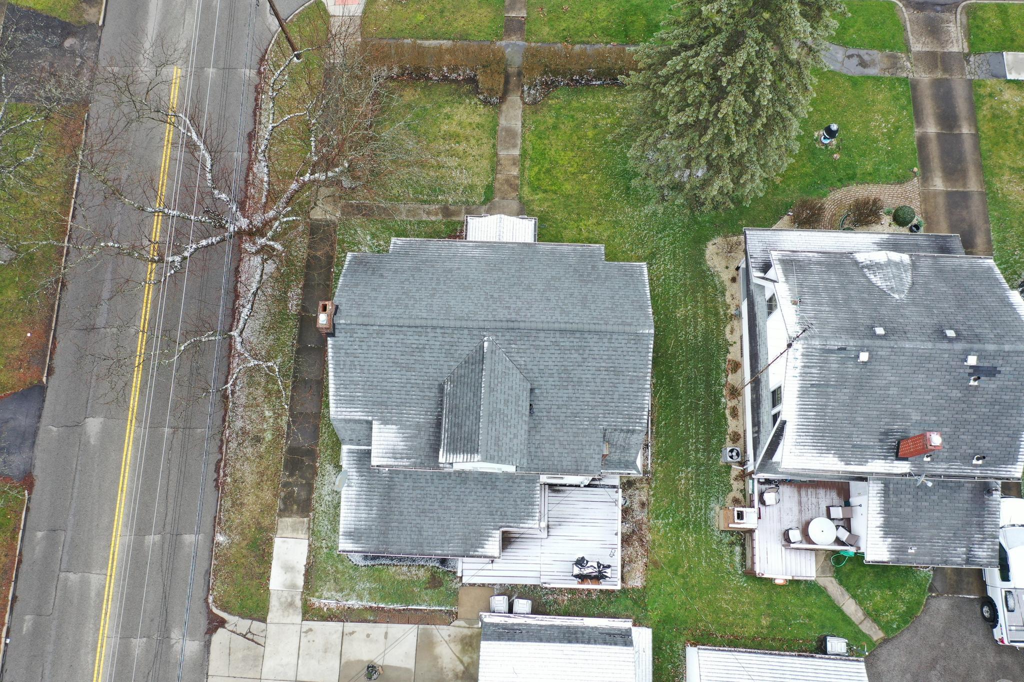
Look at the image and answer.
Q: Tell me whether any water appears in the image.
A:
No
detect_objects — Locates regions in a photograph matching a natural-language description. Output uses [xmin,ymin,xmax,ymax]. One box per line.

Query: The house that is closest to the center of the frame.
[313,211,654,564]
